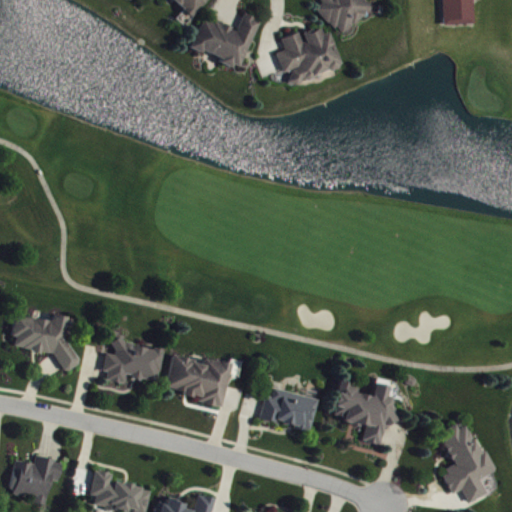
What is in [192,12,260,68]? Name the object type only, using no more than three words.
house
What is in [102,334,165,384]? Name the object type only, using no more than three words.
house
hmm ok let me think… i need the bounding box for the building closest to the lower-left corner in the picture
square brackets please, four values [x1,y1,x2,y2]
[8,456,64,506]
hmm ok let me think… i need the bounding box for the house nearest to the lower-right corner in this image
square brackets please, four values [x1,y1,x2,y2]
[442,418,496,501]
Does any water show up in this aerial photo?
Yes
